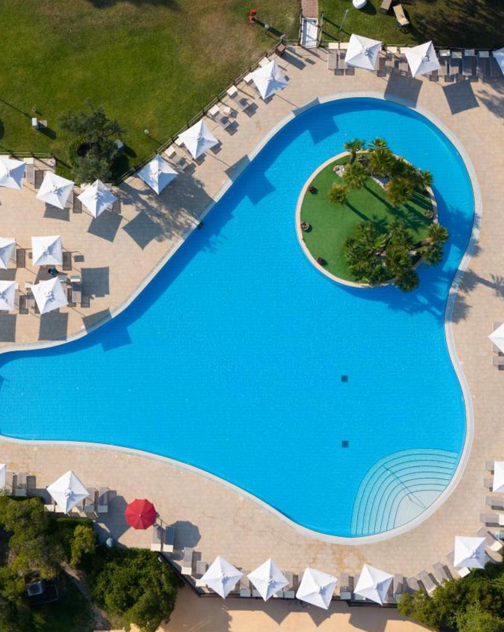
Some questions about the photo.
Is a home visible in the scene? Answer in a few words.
No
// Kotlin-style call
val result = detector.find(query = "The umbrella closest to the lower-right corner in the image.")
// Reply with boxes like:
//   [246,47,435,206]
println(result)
[452,535,484,567]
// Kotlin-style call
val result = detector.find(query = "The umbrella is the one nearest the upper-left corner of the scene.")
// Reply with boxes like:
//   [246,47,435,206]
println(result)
[0,156,28,192]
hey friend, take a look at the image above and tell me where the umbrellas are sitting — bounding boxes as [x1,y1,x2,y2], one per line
[247,558,288,599]
[48,470,89,512]
[452,535,484,567]
[489,461,504,492]
[31,235,63,266]
[402,42,439,80]
[0,156,28,192]
[125,497,157,530]
[76,182,118,220]
[177,119,219,161]
[343,35,379,72]
[487,321,504,354]
[30,276,68,314]
[137,155,178,196]
[0,282,16,311]
[248,59,290,101]
[36,171,75,210]
[0,237,17,271]
[491,47,504,80]
[297,568,335,606]
[201,557,242,597]
[354,562,392,603]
